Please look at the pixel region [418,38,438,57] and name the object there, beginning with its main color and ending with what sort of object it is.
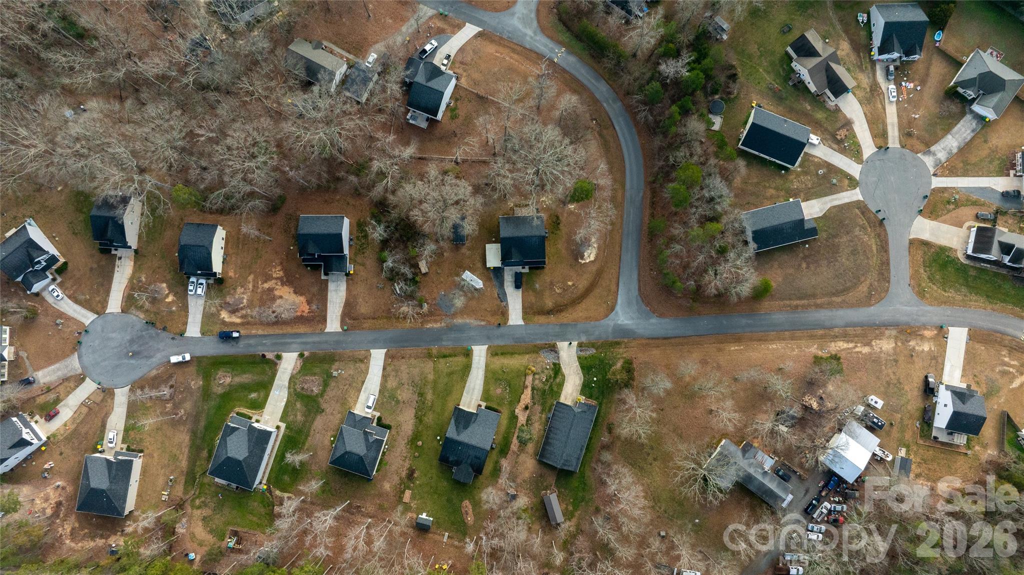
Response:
white vehicle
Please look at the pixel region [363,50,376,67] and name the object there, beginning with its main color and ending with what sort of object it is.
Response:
white vehicle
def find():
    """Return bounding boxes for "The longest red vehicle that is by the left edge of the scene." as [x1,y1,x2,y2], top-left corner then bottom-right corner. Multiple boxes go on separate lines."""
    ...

[41,407,59,423]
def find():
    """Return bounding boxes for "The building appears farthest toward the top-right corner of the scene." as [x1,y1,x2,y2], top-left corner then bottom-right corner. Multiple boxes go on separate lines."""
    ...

[947,45,1024,120]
